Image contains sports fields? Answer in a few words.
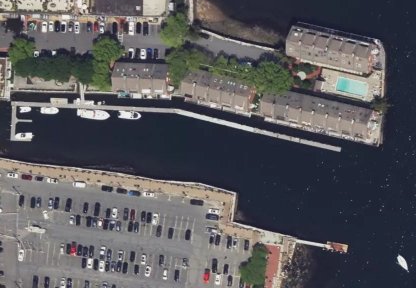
No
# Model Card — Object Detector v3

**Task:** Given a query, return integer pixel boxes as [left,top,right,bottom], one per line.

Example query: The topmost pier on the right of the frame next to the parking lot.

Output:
[175,109,342,152]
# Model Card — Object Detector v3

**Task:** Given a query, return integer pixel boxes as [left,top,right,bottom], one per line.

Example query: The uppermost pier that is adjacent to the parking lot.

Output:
[11,101,174,114]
